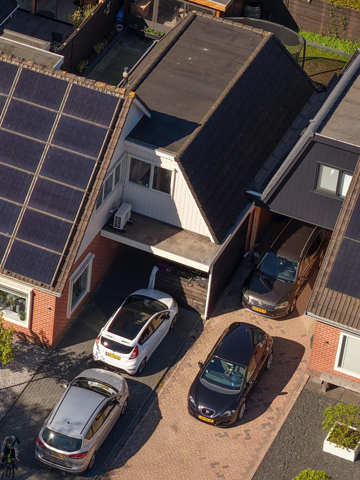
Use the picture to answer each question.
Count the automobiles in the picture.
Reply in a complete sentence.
In total, 4 automobiles can be seen.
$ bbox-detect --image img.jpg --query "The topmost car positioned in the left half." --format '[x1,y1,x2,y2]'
[92,283,181,378]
